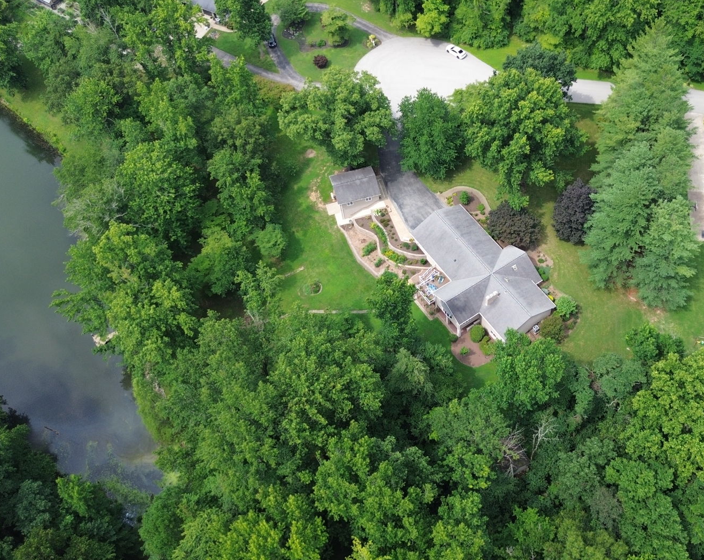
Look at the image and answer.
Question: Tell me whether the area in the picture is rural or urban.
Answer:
rural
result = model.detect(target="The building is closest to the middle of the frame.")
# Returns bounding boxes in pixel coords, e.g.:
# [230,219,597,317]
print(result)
[328,169,380,222]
